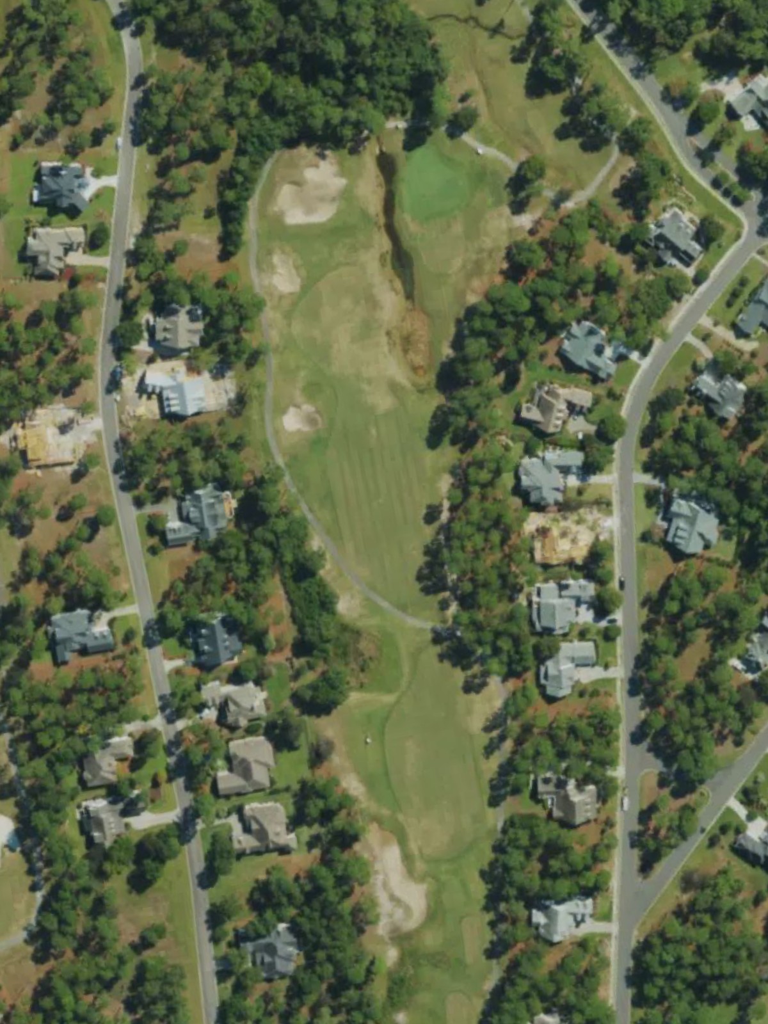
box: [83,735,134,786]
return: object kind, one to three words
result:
house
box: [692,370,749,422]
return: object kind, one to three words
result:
house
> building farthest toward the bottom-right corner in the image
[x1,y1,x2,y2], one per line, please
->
[732,820,768,866]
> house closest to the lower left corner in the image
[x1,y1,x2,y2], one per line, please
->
[77,796,130,849]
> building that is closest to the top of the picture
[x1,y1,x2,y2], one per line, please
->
[729,68,768,130]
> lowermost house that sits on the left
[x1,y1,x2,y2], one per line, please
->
[239,921,304,973]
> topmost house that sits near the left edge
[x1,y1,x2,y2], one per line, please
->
[33,162,90,212]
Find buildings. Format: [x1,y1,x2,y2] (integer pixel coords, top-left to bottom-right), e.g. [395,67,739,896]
[692,370,749,422]
[145,358,228,419]
[77,796,130,849]
[647,207,709,270]
[735,266,768,334]
[27,224,85,276]
[155,303,205,349]
[560,317,619,381]
[532,578,596,634]
[729,68,768,130]
[519,450,584,508]
[33,162,90,212]
[732,820,768,866]
[232,798,298,854]
[83,735,134,786]
[49,607,115,663]
[193,617,244,667]
[519,387,593,435]
[216,732,276,797]
[671,494,726,556]
[165,482,237,546]
[540,638,596,696]
[743,633,768,677]
[530,775,598,827]
[199,679,270,727]
[530,894,594,943]
[239,921,304,973]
